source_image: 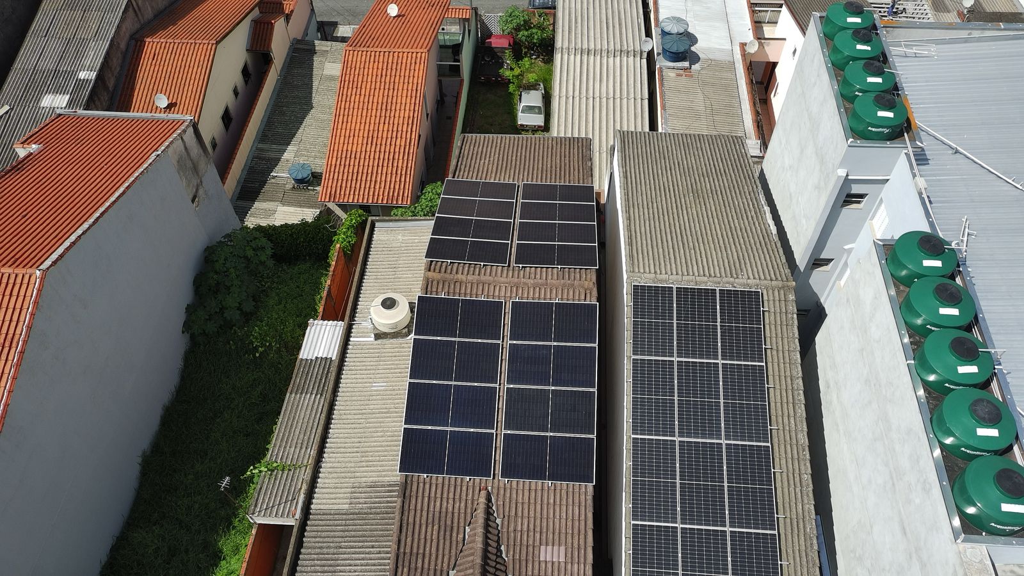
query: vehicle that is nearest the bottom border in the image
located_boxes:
[517,80,550,133]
